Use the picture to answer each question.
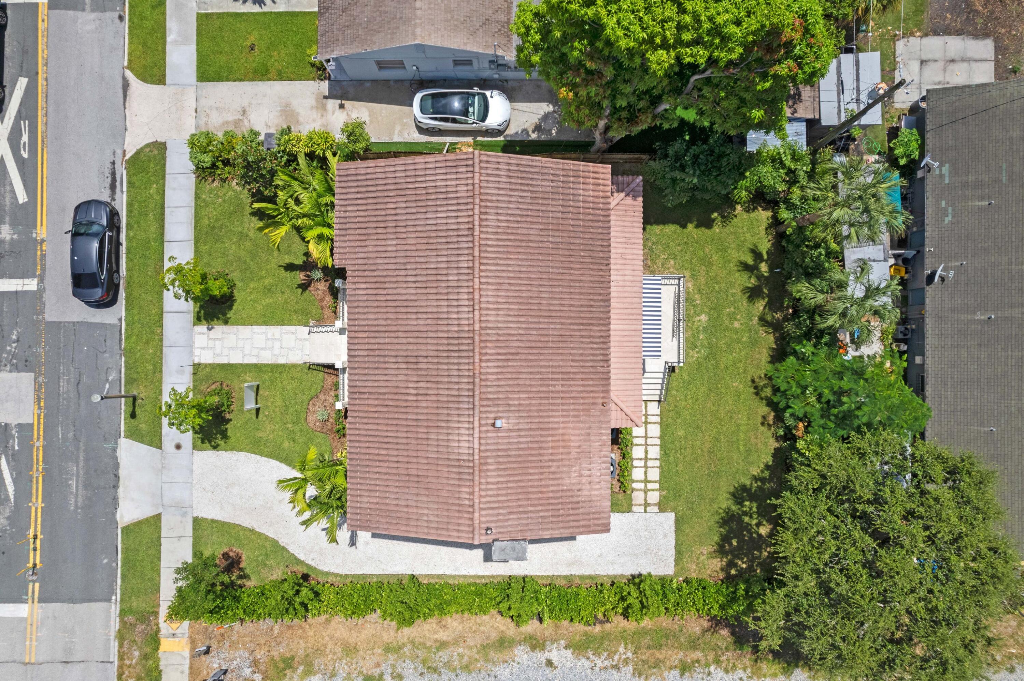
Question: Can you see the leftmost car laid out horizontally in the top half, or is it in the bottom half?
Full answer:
It is in the top half that the leftmost car laid out horizontally appears.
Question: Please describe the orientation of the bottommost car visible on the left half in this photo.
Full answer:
What the image shows is the bottommost car visible on the left half lying vertically.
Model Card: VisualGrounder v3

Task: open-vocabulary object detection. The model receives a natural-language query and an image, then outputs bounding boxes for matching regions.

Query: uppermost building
[317,0,518,81]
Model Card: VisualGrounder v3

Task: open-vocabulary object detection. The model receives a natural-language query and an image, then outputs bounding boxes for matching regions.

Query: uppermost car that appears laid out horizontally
[409,83,514,132]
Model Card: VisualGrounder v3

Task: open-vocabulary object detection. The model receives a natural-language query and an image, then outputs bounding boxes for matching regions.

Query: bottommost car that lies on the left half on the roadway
[67,198,122,303]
